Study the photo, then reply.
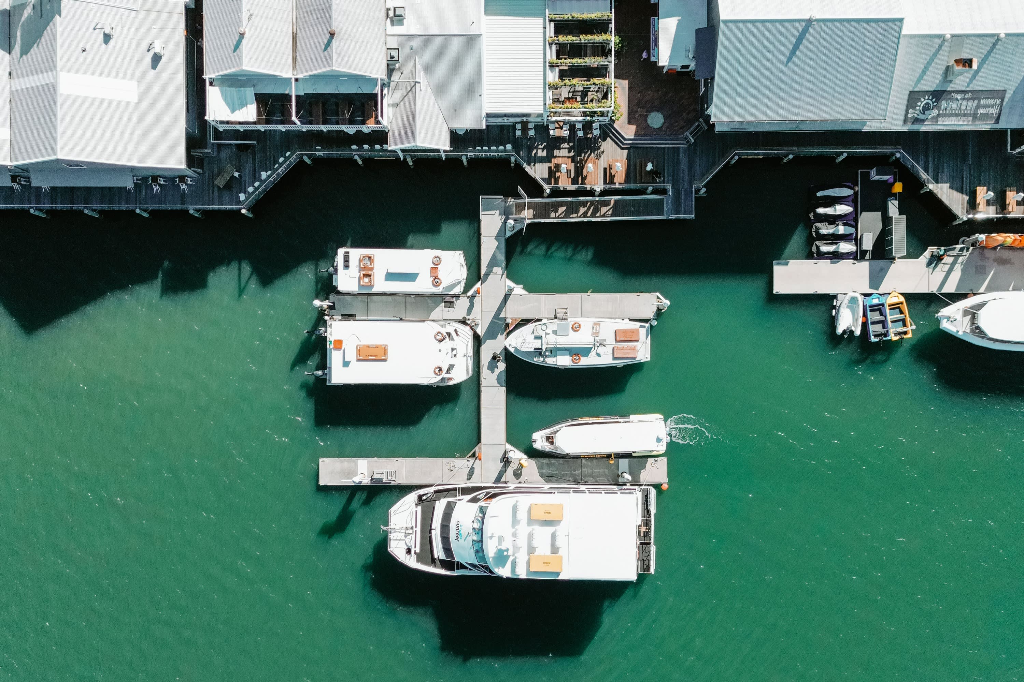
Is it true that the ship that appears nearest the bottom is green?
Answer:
No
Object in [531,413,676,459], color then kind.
white boat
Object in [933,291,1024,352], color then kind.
white boat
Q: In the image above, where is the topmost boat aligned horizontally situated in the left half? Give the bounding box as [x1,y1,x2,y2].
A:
[318,248,467,295]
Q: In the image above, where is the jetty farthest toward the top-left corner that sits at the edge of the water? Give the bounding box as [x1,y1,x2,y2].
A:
[323,283,480,335]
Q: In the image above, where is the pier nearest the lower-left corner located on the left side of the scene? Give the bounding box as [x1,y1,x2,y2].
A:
[319,445,480,484]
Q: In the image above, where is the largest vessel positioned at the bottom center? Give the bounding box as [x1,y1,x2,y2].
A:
[381,482,656,581]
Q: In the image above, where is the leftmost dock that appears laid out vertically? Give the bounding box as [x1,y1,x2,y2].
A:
[480,196,524,484]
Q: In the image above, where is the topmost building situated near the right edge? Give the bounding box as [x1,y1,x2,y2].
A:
[699,0,1024,132]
